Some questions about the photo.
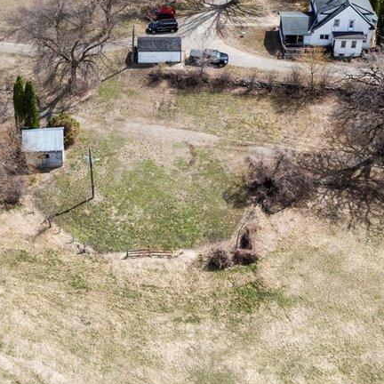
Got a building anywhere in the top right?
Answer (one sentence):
Yes, looking in the top right, one can make out a building.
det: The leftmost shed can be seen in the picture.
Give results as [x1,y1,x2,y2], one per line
[23,125,67,170]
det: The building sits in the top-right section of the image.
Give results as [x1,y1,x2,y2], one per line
[278,0,381,65]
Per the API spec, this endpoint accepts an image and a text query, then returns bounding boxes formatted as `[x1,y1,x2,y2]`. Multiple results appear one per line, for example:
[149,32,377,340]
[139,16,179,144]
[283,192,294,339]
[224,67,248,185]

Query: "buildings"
[23,125,67,170]
[278,0,381,65]
[135,34,182,63]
